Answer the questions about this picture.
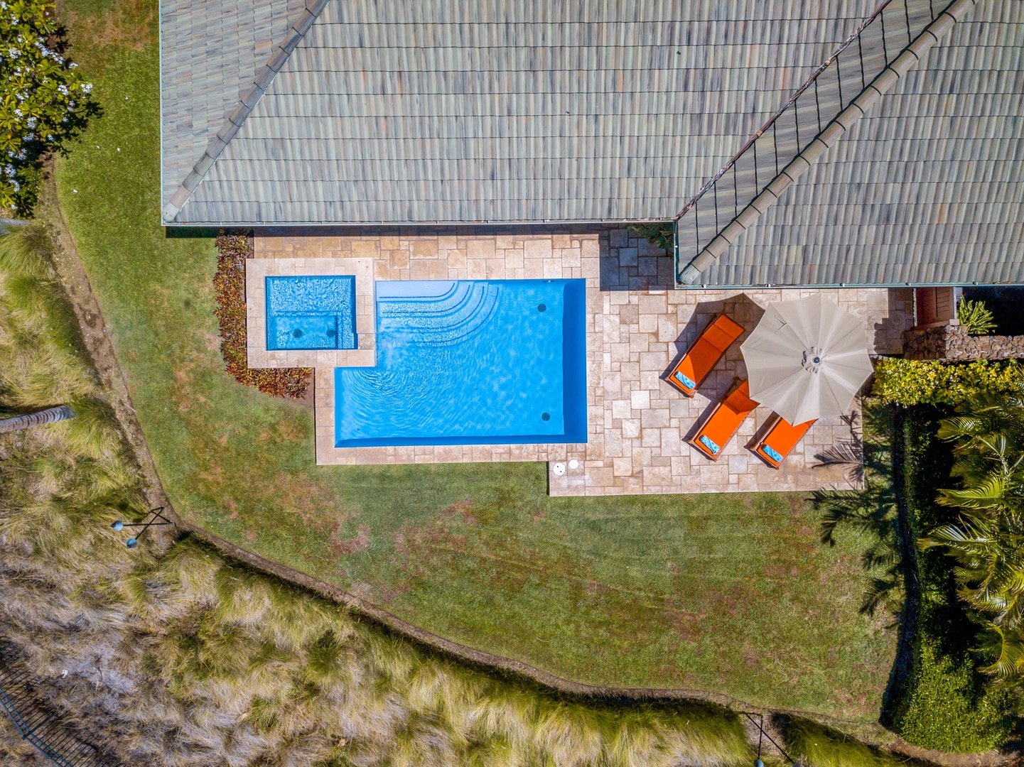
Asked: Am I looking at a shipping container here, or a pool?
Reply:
pool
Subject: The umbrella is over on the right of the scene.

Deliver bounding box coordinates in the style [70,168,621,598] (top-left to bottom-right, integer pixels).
[740,293,873,425]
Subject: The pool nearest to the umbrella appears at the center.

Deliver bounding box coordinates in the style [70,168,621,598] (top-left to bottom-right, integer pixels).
[315,277,606,465]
